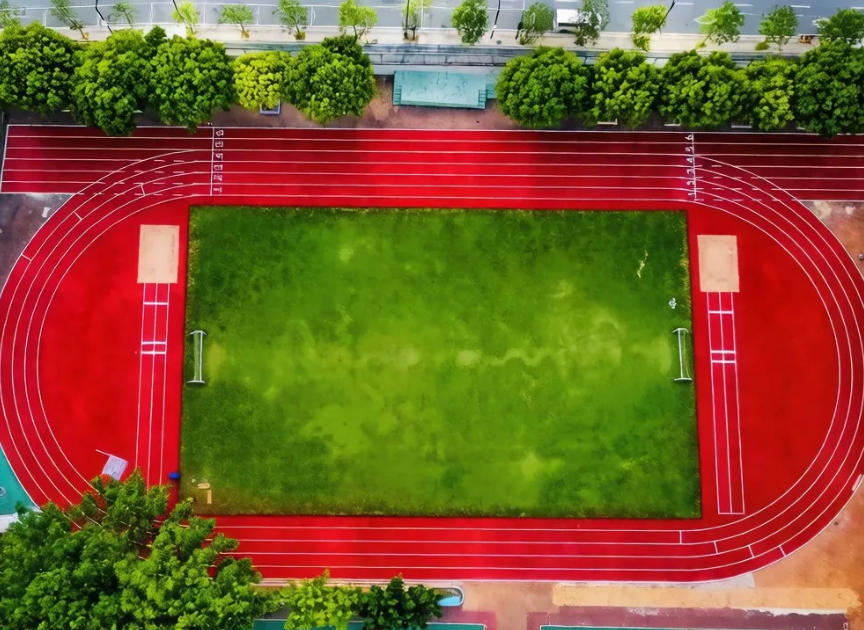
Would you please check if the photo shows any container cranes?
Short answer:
No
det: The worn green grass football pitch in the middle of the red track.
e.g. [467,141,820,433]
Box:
[179,205,703,520]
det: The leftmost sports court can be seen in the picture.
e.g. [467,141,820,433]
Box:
[0,444,36,511]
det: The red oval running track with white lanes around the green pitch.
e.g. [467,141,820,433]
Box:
[0,124,864,583]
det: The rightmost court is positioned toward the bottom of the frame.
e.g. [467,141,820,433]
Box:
[527,606,848,630]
